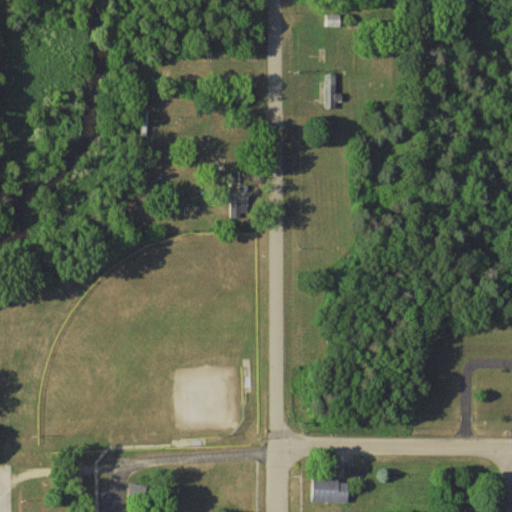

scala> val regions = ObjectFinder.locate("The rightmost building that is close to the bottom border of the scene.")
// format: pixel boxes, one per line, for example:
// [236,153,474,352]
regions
[312,480,348,503]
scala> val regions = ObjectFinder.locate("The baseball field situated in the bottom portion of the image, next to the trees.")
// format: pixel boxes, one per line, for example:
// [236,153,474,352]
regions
[38,233,258,446]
